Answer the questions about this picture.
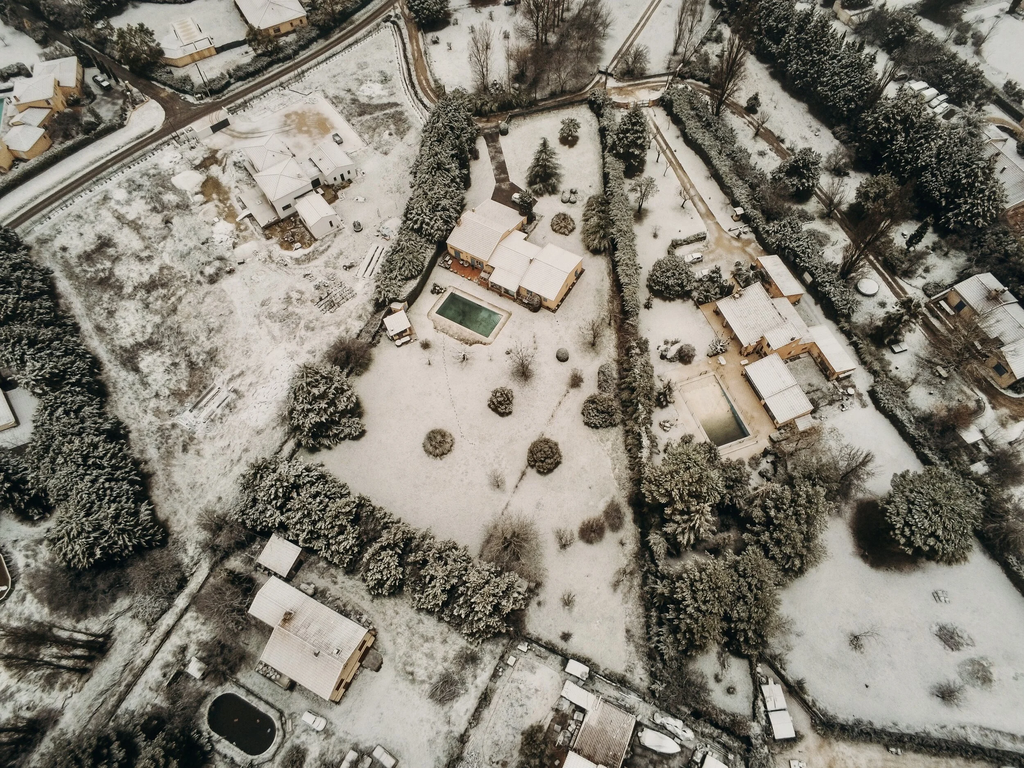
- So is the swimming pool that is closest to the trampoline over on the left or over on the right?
right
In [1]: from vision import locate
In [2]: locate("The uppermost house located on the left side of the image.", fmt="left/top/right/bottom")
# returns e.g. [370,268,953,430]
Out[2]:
[236,0,307,36]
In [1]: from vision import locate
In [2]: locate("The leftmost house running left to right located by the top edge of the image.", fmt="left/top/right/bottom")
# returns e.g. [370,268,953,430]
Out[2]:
[160,37,217,69]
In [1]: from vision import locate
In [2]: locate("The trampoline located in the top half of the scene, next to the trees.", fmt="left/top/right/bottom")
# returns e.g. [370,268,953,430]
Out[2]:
[856,278,880,295]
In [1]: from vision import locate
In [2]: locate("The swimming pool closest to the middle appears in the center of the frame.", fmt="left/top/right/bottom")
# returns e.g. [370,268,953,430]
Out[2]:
[430,288,508,341]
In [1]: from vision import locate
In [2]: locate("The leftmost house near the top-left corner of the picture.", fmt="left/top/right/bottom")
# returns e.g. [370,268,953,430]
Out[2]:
[0,56,86,175]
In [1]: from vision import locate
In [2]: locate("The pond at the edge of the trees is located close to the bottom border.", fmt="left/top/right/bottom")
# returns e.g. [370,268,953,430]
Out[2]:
[206,690,276,760]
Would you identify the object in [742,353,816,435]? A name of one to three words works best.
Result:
building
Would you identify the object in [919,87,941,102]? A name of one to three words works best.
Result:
vehicle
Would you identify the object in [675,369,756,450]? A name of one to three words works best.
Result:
swimming pool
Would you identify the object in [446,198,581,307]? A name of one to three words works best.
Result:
house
